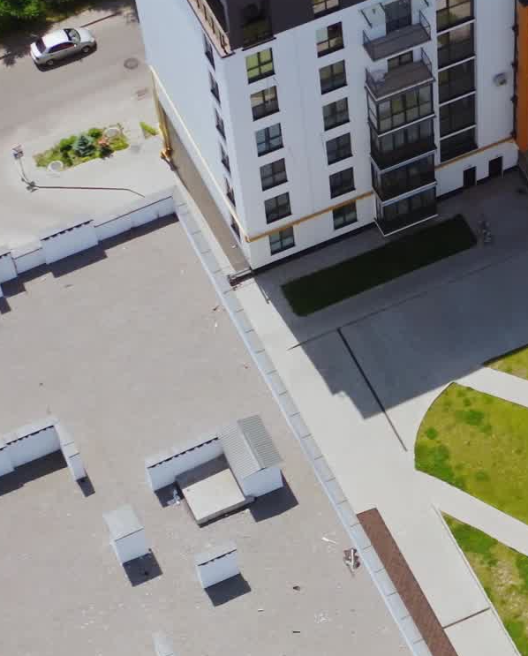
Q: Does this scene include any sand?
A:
No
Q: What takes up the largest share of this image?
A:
buildings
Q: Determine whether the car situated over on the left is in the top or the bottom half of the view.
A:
top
